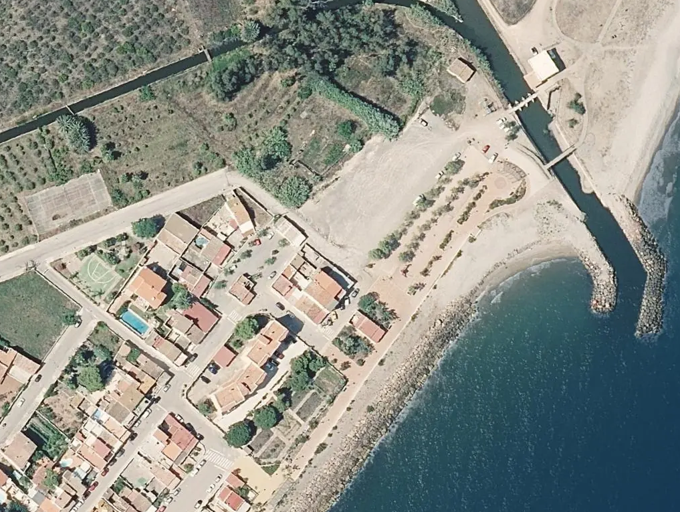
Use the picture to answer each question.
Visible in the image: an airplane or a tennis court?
tennis court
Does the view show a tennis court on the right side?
No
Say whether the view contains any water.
Yes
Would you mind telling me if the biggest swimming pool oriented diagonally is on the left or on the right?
left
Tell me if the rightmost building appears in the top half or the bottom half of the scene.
top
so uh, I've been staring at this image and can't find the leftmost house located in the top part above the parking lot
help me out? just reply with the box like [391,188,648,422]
[447,59,474,83]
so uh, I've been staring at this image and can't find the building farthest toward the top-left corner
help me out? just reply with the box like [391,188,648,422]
[157,213,200,254]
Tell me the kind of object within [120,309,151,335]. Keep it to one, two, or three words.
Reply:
swimming pool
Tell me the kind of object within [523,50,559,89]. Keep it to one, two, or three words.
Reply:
building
